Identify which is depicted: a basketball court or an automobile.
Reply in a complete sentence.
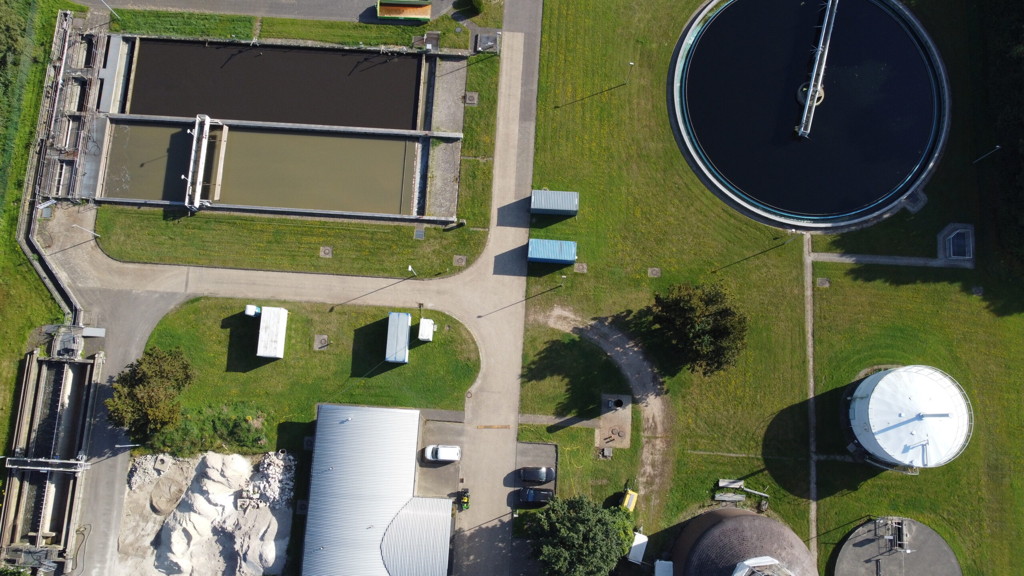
The one in the frame is an automobile.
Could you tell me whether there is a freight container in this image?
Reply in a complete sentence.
Yes, the picture does show a freight container.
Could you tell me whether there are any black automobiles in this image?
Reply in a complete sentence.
Yes, there is a black automobile in the image.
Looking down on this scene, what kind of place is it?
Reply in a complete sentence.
What you see here is an industrial area.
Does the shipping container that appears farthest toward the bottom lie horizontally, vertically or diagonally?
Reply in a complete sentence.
The shipping container that appears farthest toward the bottom is oriented horizontally.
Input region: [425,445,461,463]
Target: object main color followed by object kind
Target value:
white vehicle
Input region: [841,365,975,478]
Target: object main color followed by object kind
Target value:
white storage tank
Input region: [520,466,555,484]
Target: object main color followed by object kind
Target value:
black car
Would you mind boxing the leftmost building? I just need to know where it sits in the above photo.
[257,307,294,358]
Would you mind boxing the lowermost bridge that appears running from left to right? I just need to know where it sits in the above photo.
[6,447,90,472]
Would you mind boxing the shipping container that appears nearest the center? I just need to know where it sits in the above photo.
[527,239,577,265]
